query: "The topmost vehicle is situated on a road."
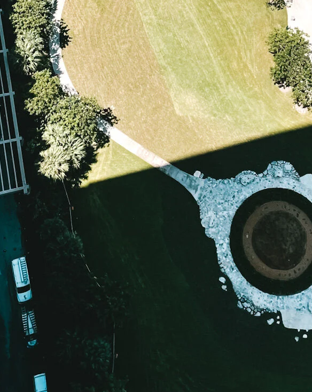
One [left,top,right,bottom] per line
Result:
[10,255,33,308]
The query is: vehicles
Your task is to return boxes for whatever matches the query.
[10,255,33,308]
[17,310,41,356]
[31,369,49,392]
